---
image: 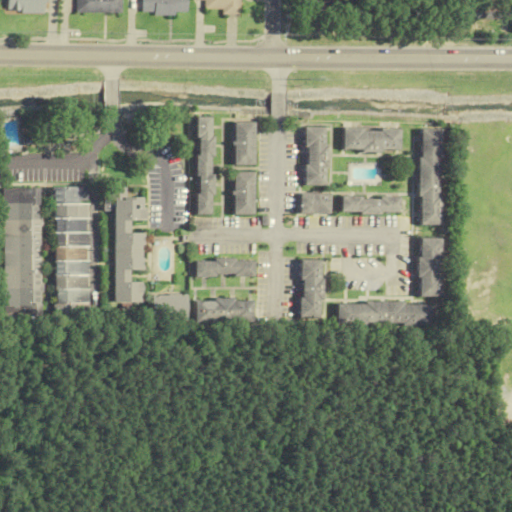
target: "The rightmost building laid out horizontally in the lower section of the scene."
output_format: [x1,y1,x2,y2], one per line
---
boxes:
[339,301,428,324]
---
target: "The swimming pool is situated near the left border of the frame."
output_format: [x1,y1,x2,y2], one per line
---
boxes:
[5,120,18,143]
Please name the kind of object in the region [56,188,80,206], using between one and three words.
house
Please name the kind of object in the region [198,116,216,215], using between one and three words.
building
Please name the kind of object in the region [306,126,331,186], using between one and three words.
building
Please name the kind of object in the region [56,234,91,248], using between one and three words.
house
